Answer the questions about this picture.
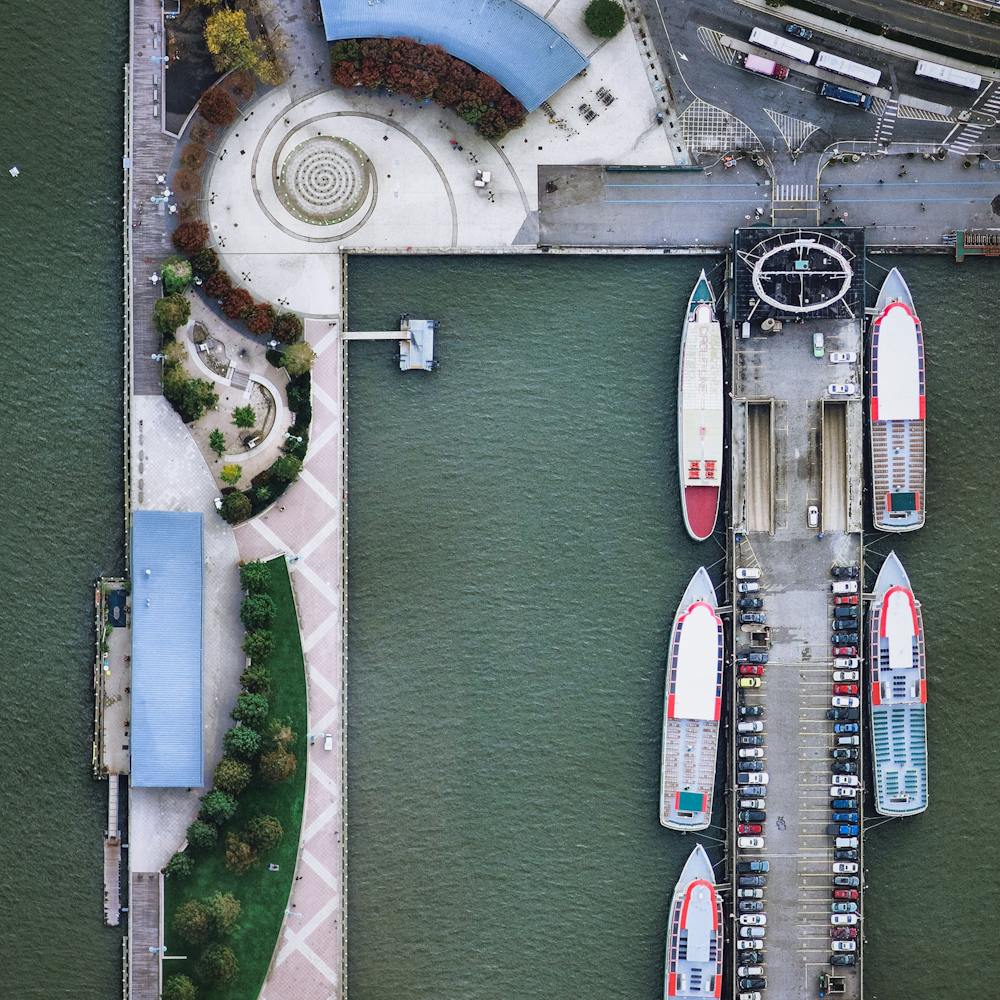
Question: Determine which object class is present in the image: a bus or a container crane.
bus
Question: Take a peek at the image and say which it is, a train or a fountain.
fountain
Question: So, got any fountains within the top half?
Yes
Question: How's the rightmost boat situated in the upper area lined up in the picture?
up and down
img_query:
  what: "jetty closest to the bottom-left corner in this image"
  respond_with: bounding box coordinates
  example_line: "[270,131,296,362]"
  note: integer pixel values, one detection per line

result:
[104,837,129,925]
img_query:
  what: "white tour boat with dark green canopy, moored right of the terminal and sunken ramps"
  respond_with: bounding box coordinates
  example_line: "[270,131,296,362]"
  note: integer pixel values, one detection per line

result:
[867,267,926,533]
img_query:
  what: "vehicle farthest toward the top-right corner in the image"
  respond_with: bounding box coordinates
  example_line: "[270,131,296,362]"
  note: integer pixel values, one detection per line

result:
[912,61,981,92]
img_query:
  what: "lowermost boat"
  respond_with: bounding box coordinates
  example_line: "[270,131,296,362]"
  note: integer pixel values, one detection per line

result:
[665,845,723,1000]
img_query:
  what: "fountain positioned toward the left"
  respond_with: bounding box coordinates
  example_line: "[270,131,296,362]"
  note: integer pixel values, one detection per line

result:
[276,134,370,227]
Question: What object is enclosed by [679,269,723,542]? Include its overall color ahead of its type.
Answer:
white boat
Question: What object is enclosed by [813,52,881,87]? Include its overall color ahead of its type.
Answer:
white bus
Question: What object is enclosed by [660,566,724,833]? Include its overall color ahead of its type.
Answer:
white boat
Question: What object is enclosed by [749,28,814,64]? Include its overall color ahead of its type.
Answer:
white bus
